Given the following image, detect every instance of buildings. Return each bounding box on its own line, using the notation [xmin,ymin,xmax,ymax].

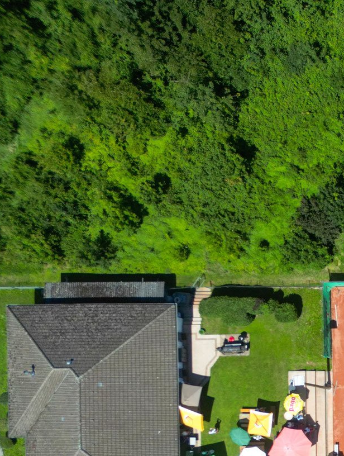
[44,282,168,300]
[6,303,180,456]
